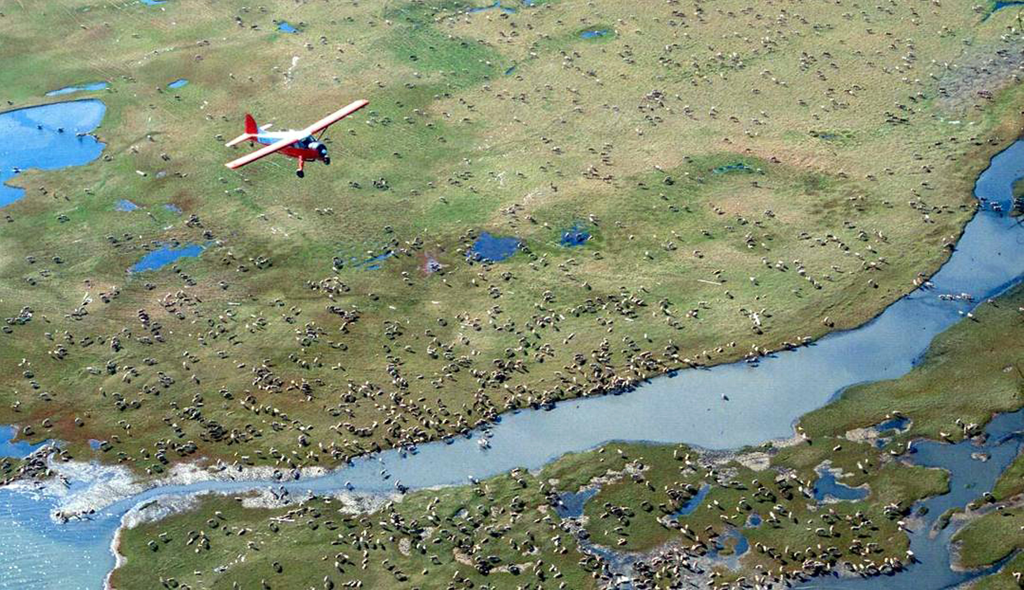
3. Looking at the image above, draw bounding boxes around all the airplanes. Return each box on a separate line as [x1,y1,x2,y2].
[225,100,369,177]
